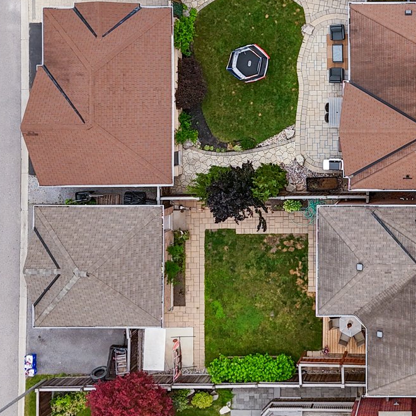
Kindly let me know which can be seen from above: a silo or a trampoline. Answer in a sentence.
Of the two, only a trampoline appears.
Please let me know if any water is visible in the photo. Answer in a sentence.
No, the scene doesn't show any water.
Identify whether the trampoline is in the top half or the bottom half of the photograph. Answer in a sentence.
You can find the trampoline in the top half.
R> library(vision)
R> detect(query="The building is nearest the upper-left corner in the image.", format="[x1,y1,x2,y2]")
[19,1,184,188]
